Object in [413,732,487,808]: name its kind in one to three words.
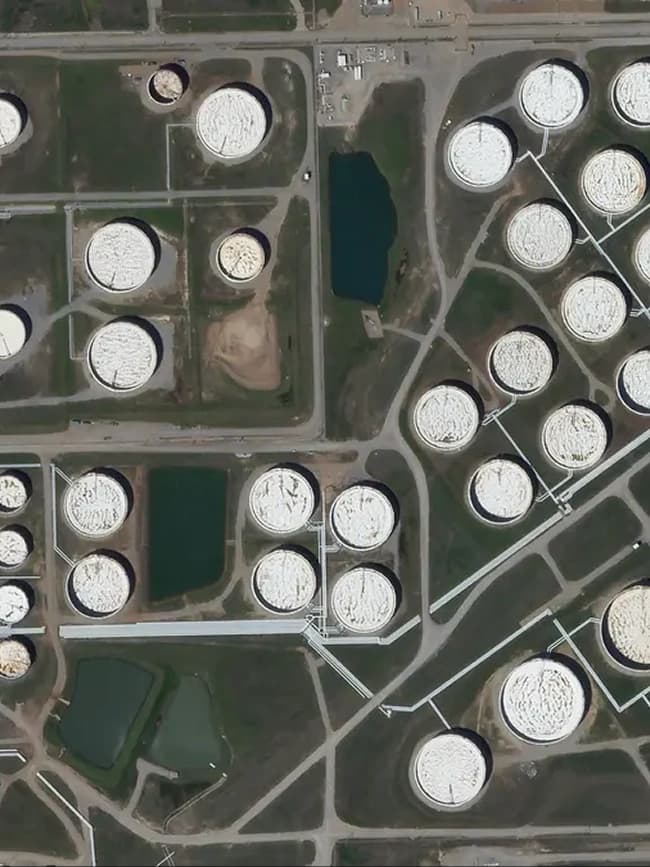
storage tank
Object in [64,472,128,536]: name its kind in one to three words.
storage tank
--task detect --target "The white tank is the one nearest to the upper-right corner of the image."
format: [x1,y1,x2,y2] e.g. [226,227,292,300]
[611,61,650,128]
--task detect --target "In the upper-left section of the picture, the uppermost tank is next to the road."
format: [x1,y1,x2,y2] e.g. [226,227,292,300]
[147,69,184,106]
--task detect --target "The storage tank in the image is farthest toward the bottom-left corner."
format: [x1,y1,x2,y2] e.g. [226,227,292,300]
[0,638,31,680]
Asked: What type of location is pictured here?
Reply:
industrial area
